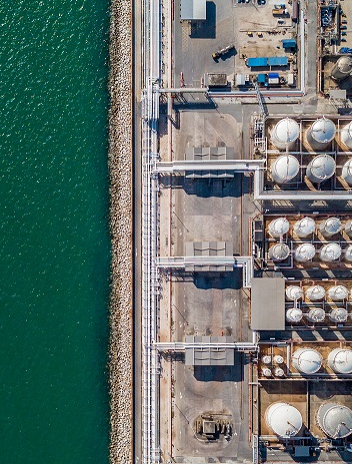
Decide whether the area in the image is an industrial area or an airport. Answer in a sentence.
It's an industrial area.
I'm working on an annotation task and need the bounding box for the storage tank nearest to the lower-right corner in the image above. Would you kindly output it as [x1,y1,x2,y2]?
[317,398,352,438]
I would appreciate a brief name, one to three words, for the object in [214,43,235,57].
vehicle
